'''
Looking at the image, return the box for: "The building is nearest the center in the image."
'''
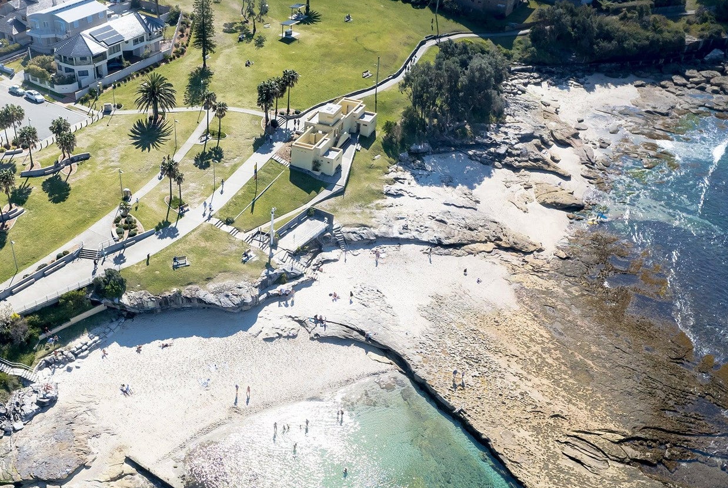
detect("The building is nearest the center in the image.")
[287,98,387,180]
